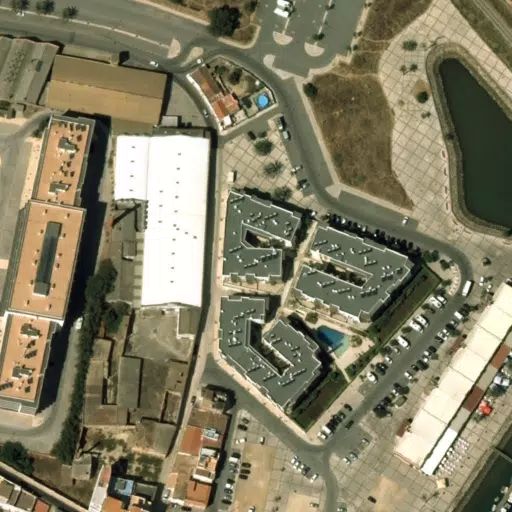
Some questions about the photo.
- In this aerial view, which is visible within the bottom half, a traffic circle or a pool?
pool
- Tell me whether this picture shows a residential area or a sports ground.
residential area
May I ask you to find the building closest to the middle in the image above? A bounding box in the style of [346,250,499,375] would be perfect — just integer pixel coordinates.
[220,192,300,280]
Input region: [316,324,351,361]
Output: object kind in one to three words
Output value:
swimming pool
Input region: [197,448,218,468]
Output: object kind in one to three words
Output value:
house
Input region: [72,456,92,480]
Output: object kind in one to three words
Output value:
shed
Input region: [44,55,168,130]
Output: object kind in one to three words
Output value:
building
